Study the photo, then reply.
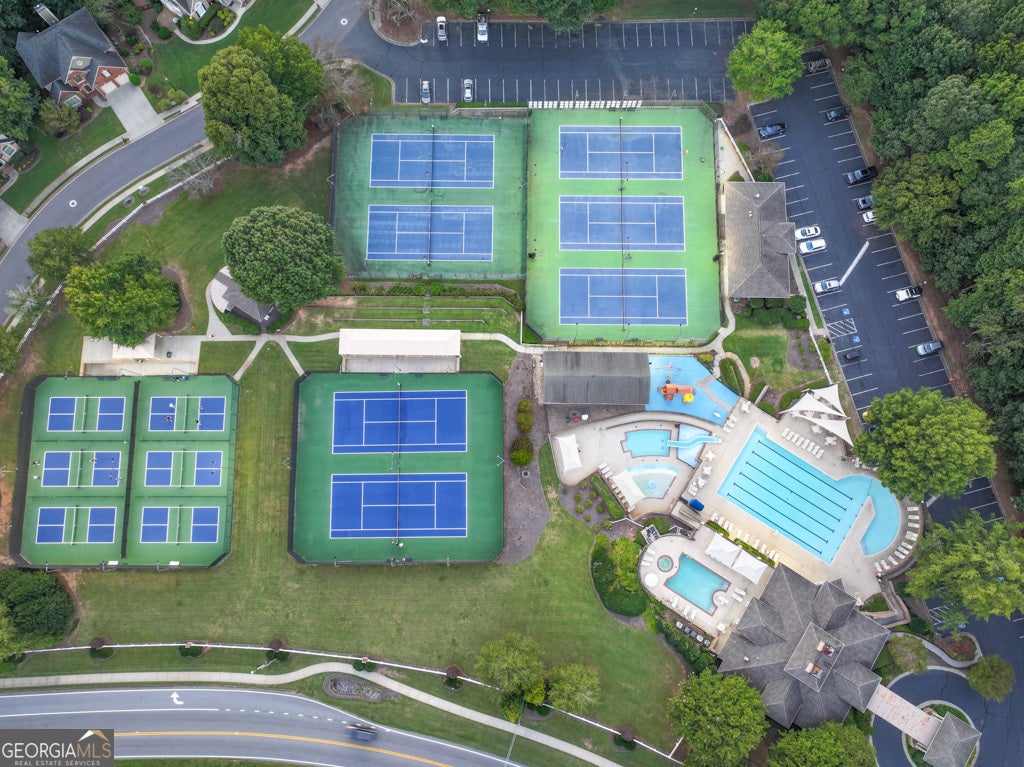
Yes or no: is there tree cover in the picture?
Yes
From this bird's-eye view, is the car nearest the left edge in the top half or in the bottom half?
bottom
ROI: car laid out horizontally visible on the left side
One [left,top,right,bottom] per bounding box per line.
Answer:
[344,724,380,744]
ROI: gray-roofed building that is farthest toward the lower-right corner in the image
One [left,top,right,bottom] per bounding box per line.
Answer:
[717,562,891,730]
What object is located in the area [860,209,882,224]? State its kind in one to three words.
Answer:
car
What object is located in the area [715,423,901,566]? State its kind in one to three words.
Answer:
swimming pool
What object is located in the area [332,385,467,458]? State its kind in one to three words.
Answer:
tennis court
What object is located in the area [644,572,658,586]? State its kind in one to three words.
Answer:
umbrella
